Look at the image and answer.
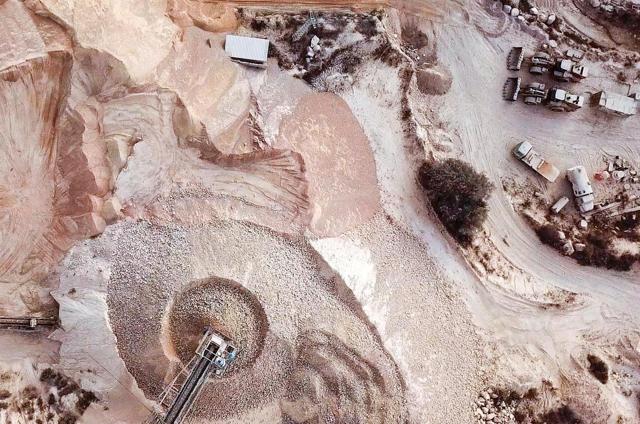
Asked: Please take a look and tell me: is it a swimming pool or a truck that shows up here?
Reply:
truck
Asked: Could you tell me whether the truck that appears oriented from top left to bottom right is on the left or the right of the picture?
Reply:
right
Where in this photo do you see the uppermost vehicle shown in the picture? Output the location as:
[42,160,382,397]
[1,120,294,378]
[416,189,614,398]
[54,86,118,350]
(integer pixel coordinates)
[512,46,595,81]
